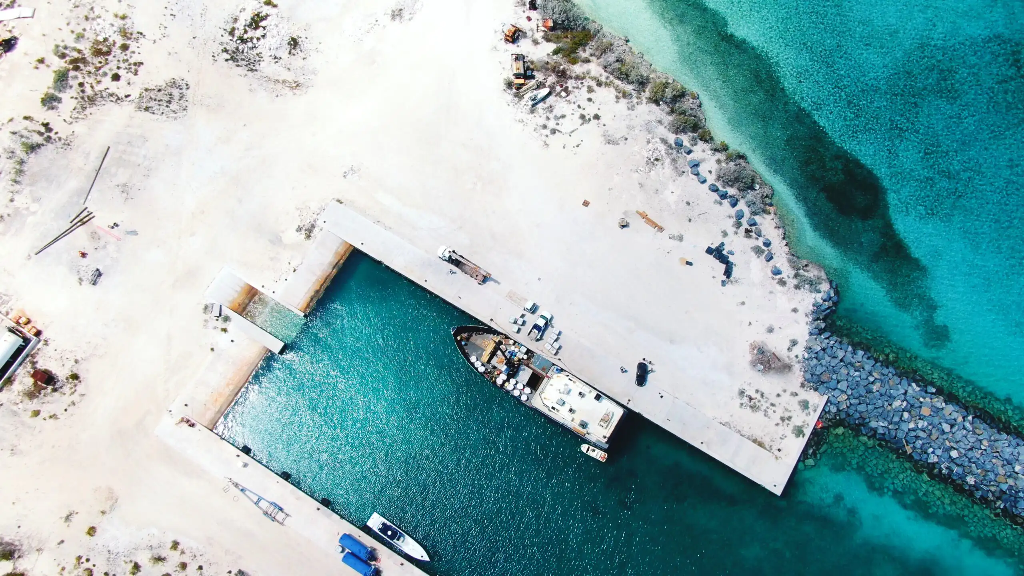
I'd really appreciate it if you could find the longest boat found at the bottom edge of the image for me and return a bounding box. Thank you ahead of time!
[367,512,431,561]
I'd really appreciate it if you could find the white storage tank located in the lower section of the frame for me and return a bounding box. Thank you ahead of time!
[0,326,32,378]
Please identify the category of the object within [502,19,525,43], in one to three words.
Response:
work vehicle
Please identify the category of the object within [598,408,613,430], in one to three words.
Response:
boat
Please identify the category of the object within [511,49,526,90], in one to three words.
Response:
vehicle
